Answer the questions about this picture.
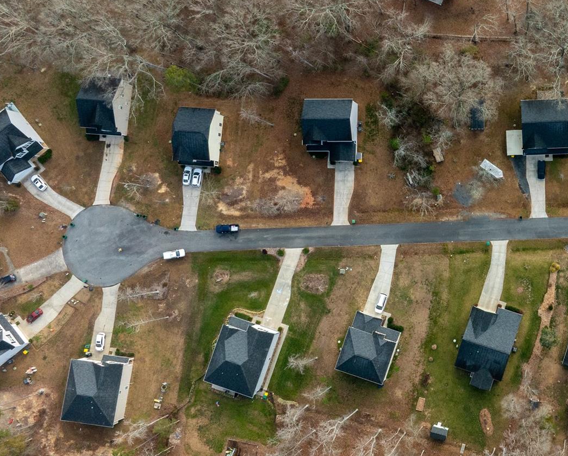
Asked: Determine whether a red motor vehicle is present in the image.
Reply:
Yes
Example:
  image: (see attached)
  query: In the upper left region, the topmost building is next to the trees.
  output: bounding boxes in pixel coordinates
[72,77,131,136]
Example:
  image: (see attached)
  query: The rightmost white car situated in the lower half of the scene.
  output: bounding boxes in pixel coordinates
[374,293,387,315]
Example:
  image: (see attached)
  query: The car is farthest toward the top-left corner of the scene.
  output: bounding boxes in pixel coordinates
[29,174,46,192]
